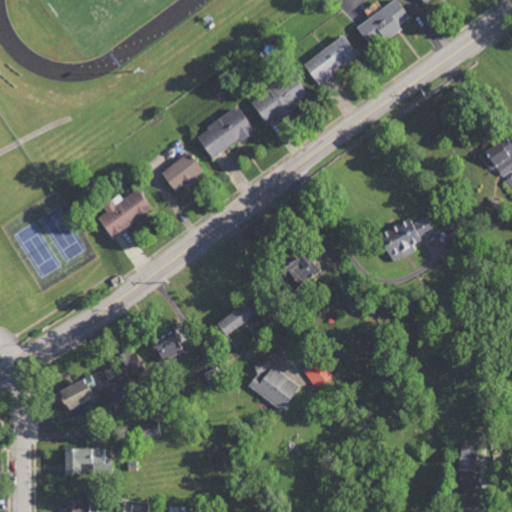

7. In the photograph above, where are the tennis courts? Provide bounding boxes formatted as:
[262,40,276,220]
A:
[40,208,86,262]
[14,224,61,278]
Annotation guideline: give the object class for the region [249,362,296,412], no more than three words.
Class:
house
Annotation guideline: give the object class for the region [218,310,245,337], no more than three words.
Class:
building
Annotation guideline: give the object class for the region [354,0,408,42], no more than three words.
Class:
house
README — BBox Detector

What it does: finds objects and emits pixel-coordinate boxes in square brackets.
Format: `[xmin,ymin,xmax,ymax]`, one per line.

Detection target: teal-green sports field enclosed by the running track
[5,0,182,62]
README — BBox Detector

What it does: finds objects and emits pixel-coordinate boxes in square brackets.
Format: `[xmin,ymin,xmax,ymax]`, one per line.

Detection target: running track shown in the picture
[0,0,216,82]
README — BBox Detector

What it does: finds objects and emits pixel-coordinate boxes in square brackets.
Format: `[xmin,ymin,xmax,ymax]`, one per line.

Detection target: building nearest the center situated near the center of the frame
[284,253,322,287]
